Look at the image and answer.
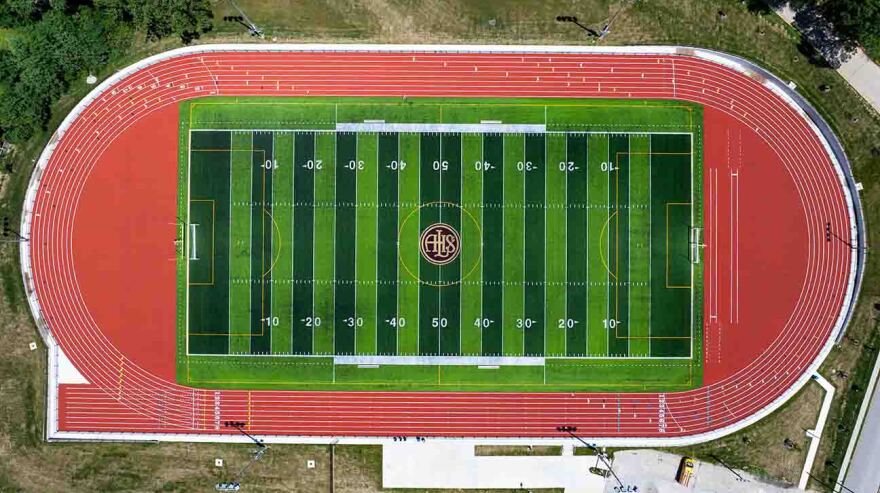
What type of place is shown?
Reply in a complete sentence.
The area seen from above is a sports ground.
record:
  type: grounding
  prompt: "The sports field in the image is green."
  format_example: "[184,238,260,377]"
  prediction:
[175,96,704,393]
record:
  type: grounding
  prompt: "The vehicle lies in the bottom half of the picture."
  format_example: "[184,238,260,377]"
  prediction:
[681,458,697,490]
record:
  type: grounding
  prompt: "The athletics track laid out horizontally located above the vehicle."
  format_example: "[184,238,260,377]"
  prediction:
[29,53,853,436]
